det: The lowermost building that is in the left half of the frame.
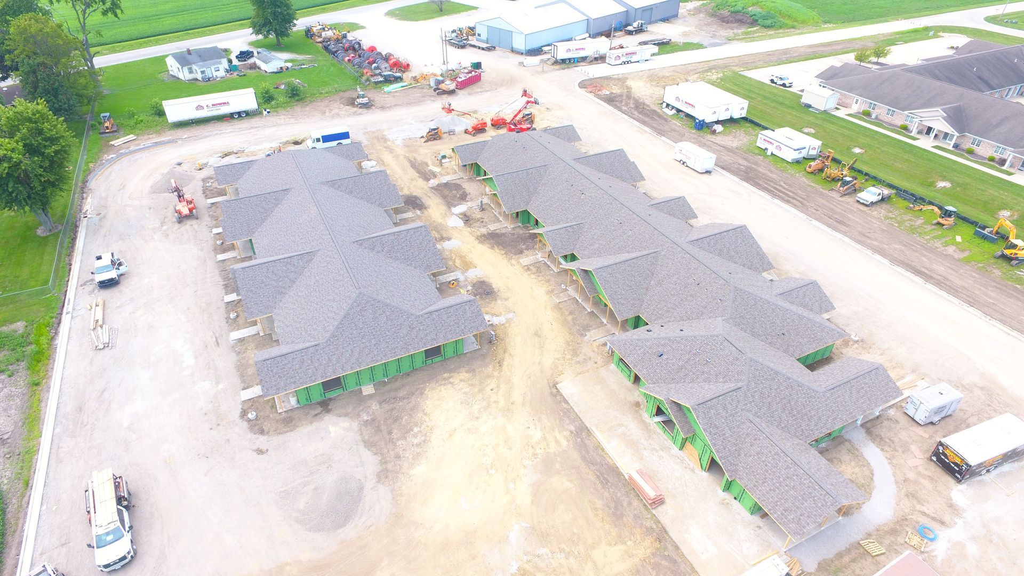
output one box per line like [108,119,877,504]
[212,141,490,413]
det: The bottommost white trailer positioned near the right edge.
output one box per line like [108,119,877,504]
[931,403,1024,484]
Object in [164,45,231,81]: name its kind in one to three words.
house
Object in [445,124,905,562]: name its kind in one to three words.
building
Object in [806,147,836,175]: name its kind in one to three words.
work vehicle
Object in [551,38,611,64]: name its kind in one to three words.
trailer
